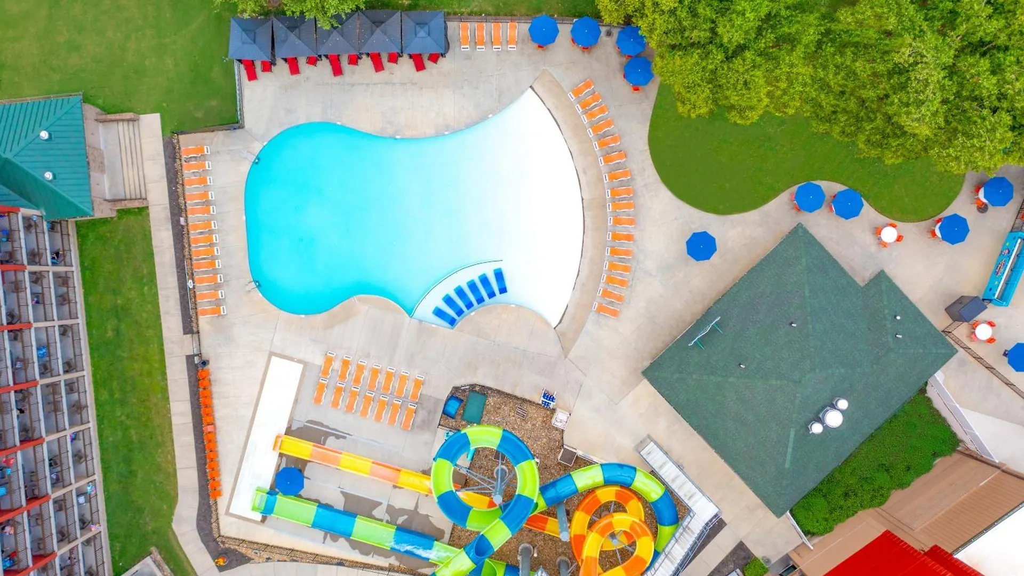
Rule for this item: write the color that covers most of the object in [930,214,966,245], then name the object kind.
blue umbrella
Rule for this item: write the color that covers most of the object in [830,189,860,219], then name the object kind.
blue umbrella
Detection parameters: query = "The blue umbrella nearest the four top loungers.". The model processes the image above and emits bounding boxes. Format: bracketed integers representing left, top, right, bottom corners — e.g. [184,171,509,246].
[529,18,559,48]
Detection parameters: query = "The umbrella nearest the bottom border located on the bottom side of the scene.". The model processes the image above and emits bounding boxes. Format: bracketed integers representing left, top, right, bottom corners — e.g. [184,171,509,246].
[277,465,307,494]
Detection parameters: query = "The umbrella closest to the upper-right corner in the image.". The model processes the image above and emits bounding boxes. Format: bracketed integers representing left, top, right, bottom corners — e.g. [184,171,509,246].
[974,177,1010,207]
